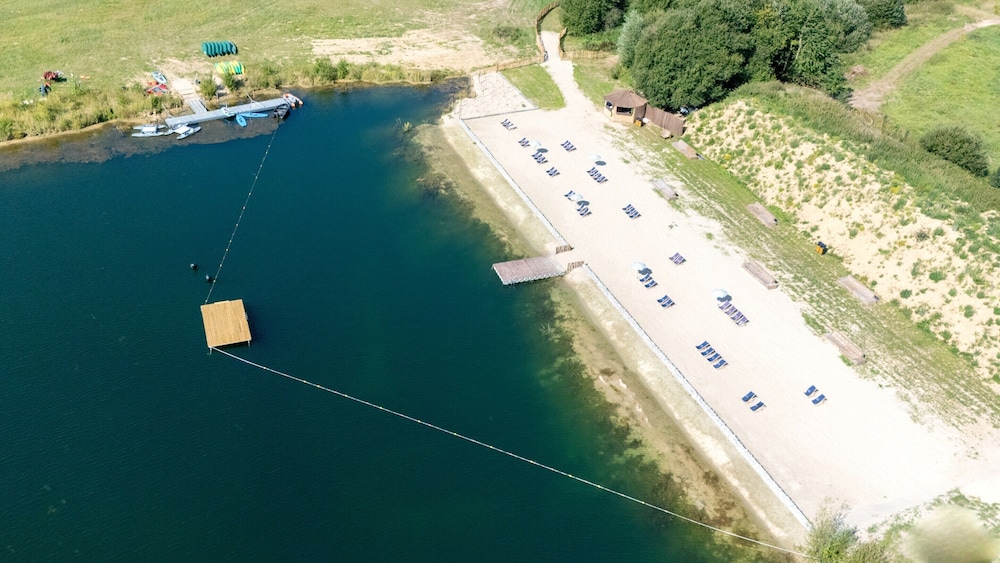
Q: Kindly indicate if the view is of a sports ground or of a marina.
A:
marina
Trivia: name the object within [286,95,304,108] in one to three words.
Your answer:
boat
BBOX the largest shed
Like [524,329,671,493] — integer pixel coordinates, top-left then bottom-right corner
[606,90,647,121]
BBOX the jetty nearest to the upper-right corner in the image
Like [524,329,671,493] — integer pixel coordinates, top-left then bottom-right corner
[491,255,570,287]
